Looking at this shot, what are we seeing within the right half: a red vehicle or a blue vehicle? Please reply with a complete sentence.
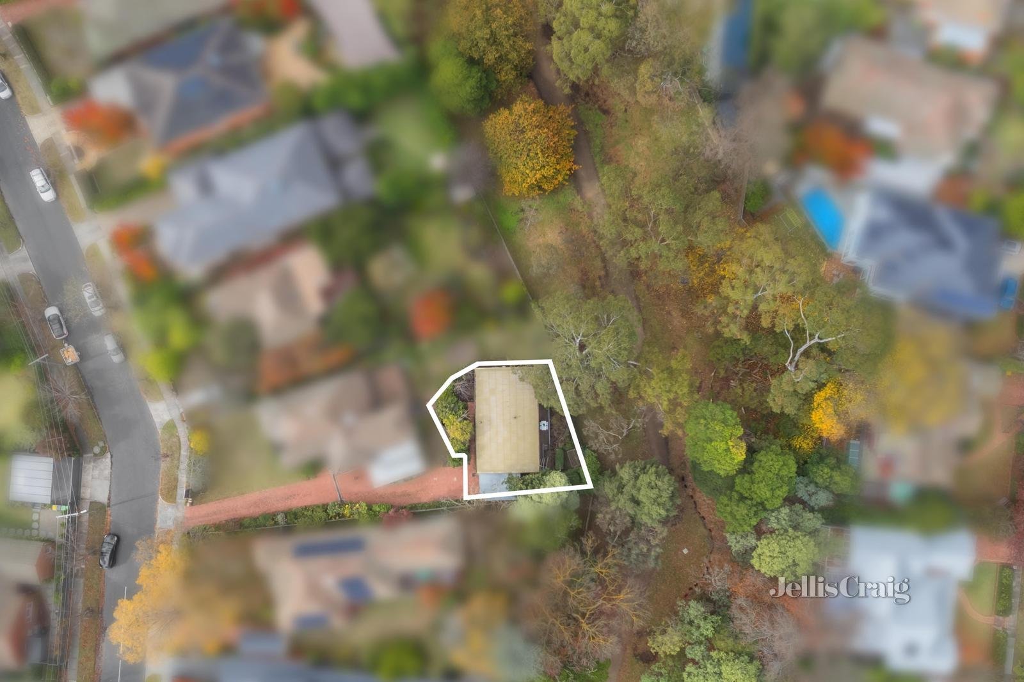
What appears within the right half is a blue vehicle.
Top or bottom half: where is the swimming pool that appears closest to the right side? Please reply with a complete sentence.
The swimming pool that appears closest to the right side sits in the top half of the picture.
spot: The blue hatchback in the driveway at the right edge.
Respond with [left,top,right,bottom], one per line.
[1000,275,1021,310]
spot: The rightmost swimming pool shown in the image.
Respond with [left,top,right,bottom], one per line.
[802,186,844,249]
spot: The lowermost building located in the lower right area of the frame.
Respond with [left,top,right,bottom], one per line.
[843,527,976,676]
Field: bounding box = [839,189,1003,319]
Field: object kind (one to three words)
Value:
house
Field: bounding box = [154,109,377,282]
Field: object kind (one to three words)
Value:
house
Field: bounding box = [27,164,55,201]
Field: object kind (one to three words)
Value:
car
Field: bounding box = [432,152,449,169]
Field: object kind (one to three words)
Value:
umbrella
